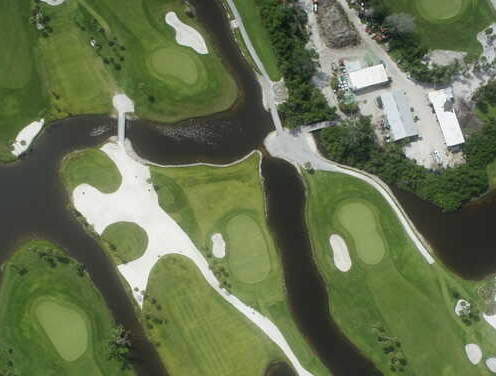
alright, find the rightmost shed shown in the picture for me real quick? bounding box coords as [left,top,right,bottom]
[427,87,464,147]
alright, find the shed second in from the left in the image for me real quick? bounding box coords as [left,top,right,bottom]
[380,89,417,142]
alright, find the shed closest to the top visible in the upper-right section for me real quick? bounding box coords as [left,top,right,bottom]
[349,63,388,91]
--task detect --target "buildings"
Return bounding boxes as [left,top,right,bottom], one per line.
[349,63,388,91]
[427,87,464,147]
[380,89,417,142]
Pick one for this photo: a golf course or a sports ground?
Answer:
golf course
